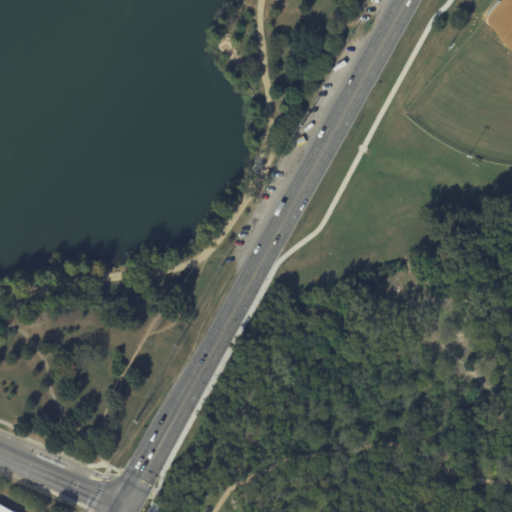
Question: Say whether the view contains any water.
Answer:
Yes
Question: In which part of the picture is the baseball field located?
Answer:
top right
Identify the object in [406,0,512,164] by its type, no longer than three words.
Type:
baseball field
